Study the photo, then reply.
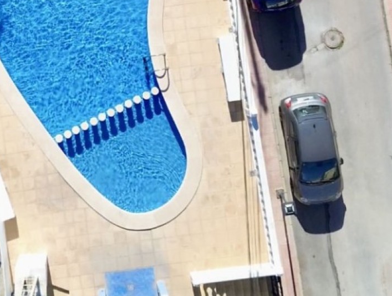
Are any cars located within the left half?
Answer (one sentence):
No, within the left half there is no car.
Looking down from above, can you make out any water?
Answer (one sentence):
Yes, water can be seen from above here.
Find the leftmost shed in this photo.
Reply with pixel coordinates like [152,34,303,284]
[17,244,52,296]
